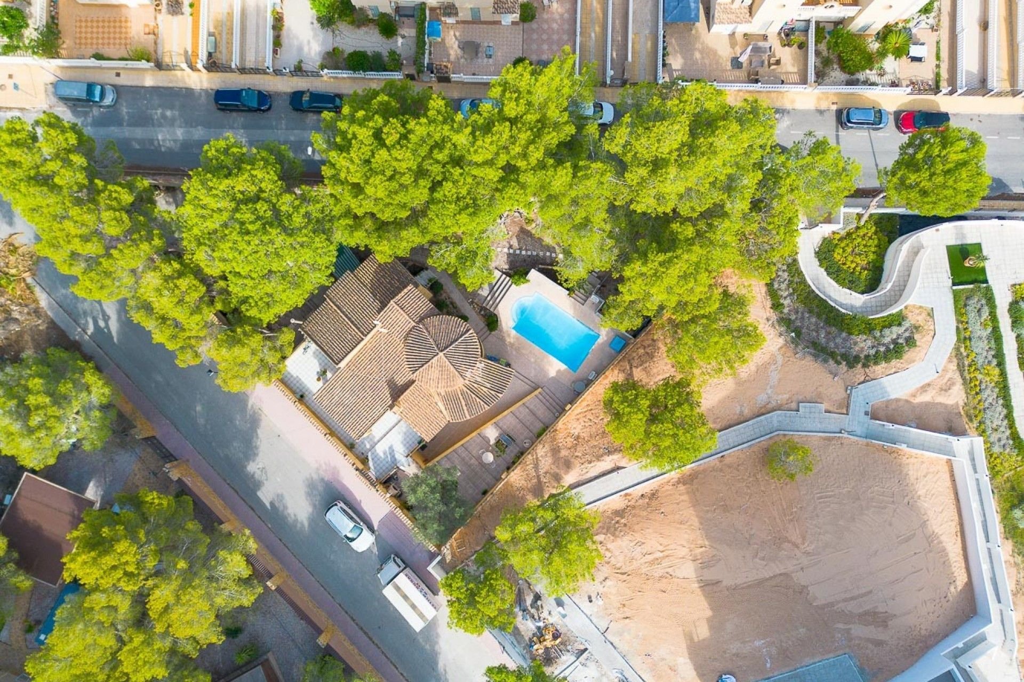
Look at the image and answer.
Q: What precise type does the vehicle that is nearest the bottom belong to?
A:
truck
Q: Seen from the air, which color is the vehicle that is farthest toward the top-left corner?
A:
blue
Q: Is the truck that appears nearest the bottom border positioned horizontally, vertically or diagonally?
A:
diagonally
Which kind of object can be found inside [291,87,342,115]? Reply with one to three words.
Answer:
car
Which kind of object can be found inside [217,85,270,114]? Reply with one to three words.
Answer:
car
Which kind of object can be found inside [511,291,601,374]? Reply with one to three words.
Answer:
swimming pool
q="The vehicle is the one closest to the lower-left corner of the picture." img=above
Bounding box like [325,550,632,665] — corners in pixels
[323,498,374,551]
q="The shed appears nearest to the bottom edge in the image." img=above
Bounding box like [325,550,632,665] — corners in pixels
[220,641,294,682]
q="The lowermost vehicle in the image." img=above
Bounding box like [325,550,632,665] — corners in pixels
[369,546,443,631]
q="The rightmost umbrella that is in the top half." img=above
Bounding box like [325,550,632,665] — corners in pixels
[732,49,749,68]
